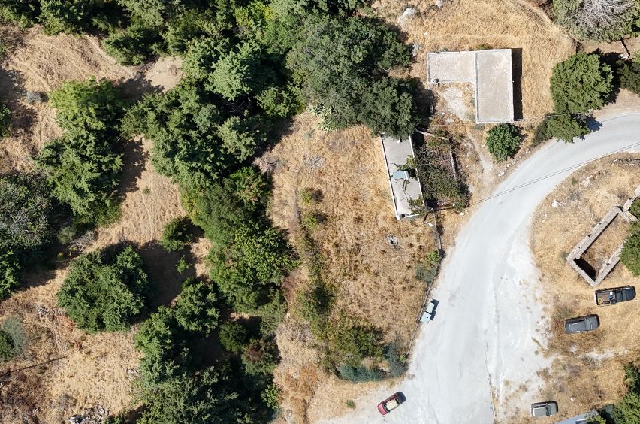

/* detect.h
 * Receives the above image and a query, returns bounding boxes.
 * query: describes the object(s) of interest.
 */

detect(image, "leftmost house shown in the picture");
[382,133,425,221]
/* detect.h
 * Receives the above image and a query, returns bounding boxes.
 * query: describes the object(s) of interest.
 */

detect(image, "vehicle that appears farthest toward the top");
[593,285,634,305]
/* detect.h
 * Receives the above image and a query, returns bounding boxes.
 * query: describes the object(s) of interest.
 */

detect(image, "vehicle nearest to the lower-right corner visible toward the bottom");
[528,399,558,417]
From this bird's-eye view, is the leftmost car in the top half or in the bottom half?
bottom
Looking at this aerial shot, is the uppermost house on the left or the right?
right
